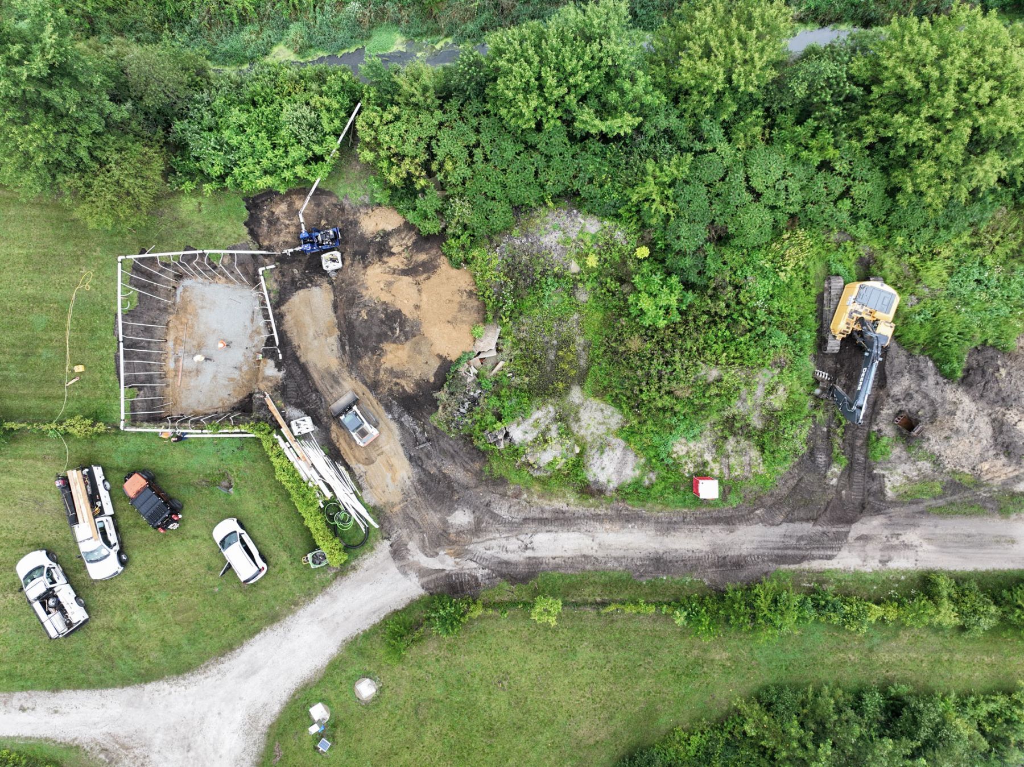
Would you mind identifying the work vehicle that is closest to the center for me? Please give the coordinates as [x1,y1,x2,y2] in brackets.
[335,389,387,452]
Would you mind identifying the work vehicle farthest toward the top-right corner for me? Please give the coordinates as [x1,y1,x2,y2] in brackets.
[821,272,901,425]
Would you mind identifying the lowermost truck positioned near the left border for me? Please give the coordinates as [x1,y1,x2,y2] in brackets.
[19,550,92,637]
